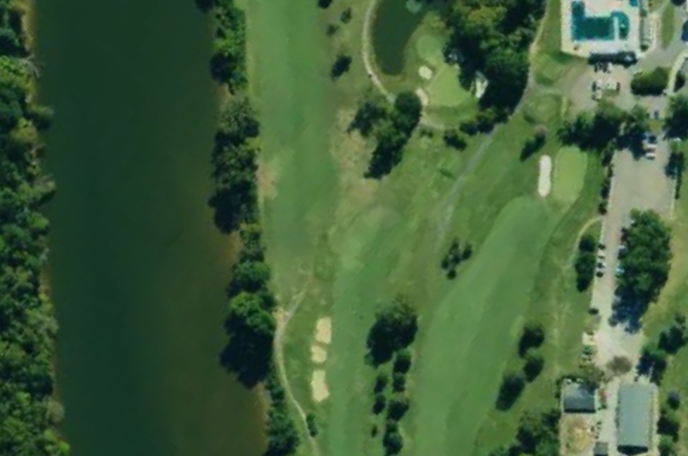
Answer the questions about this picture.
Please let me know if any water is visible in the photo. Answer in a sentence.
Yes, there's water in this view.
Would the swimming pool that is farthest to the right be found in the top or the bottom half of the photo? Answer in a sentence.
The swimming pool that is farthest to the right sits in the top half of the picture.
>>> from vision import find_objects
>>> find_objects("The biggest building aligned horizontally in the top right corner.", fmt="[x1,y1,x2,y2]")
[589,53,637,66]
